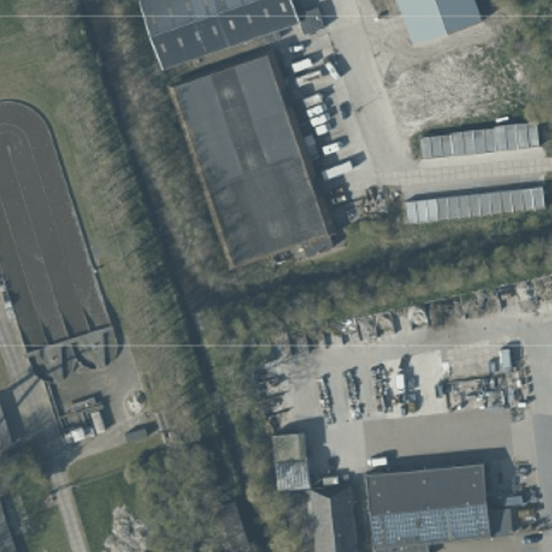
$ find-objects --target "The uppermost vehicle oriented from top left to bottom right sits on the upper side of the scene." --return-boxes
[322,60,341,82]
